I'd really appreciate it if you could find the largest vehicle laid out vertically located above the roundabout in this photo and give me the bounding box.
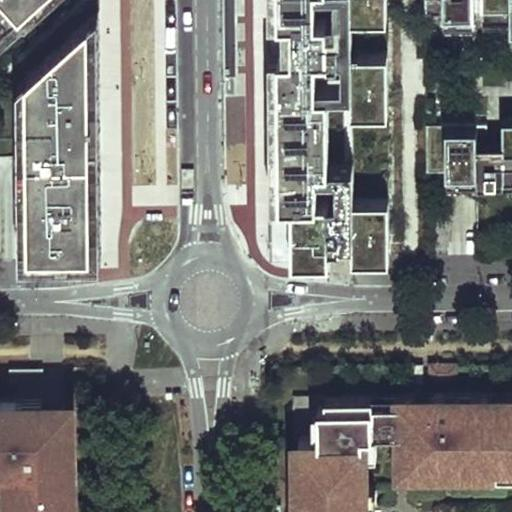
[181,169,194,206]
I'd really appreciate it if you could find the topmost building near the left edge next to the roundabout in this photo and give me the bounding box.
[15,32,101,280]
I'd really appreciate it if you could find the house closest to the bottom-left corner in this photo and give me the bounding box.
[0,400,77,512]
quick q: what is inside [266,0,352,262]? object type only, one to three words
building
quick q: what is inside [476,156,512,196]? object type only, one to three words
house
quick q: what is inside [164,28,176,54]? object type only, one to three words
vehicle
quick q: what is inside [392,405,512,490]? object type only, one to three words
house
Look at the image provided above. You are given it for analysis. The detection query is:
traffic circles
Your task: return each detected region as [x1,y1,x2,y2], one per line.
[142,226,281,364]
